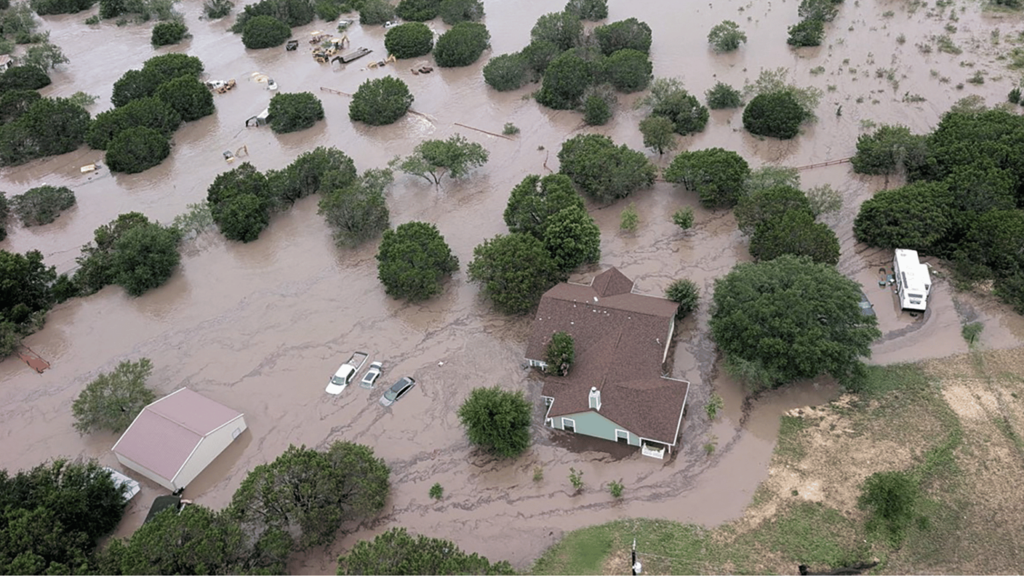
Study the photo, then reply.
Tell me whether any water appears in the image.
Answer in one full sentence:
Yes, there's water in this view.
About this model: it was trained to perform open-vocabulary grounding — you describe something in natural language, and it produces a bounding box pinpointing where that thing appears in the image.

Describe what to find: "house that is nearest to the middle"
[525,266,690,450]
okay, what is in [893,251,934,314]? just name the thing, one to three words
vehicle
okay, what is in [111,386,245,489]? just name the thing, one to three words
barn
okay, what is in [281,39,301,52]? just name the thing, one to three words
vehicle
